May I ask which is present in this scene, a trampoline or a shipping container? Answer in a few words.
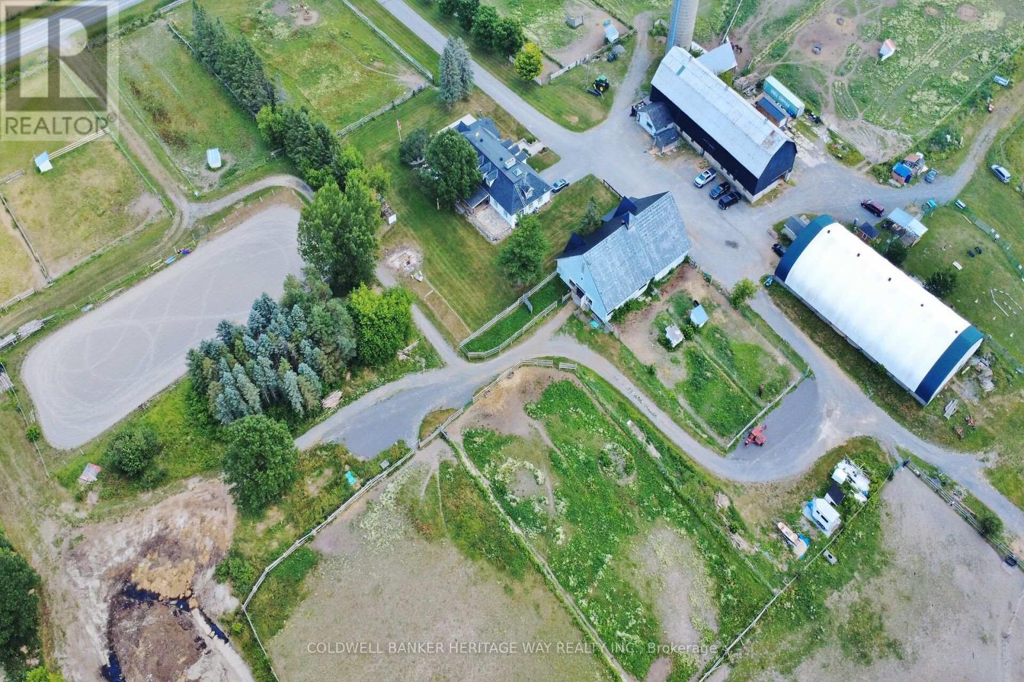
shipping container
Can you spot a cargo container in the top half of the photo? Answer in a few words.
Yes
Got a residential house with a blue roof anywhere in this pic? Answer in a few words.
Yes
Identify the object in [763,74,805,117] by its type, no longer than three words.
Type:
shipping container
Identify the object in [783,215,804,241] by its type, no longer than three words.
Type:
shed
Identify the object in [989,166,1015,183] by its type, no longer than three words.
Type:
vehicle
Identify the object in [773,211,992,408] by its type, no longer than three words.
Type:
barn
